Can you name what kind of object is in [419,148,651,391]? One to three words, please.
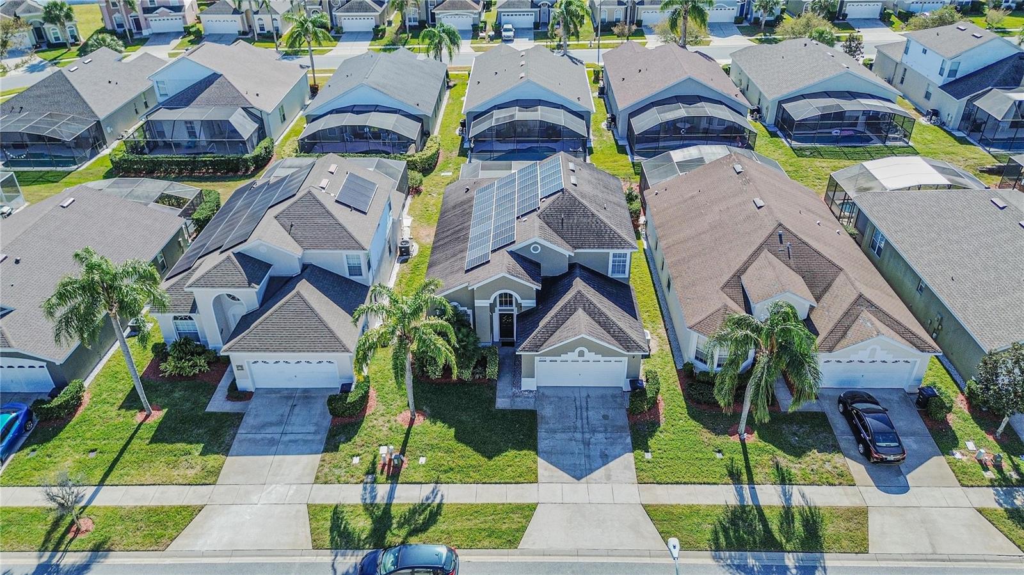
house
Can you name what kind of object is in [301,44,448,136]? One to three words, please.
house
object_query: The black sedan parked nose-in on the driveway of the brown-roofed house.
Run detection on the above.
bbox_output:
[842,393,910,462]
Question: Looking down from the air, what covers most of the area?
buildings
